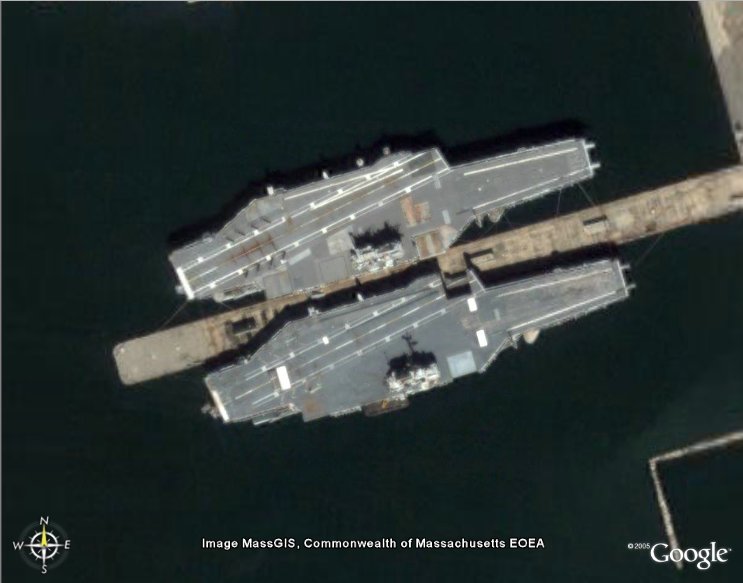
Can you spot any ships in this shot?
Yes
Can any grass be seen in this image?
No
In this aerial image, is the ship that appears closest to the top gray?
Yes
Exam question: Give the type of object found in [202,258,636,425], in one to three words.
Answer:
ship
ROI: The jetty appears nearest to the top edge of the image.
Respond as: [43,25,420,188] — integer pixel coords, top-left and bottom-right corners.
[114,168,743,385]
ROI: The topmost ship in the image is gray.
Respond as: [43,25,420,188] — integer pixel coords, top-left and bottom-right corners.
[169,137,601,302]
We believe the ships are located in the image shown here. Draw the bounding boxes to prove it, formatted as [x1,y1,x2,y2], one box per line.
[364,397,408,418]
[202,258,636,425]
[169,137,601,302]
